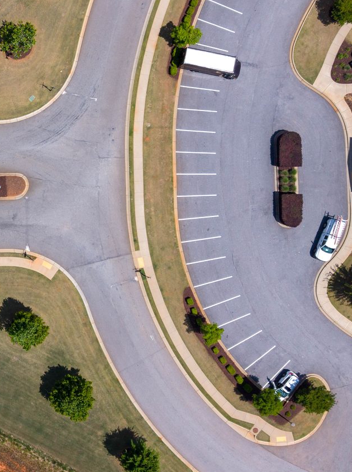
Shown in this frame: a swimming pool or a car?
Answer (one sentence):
There is a car in the scene.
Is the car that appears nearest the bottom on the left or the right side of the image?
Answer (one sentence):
It is on the right.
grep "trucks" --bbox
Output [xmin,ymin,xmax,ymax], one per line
[176,47,237,76]
[315,216,351,263]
